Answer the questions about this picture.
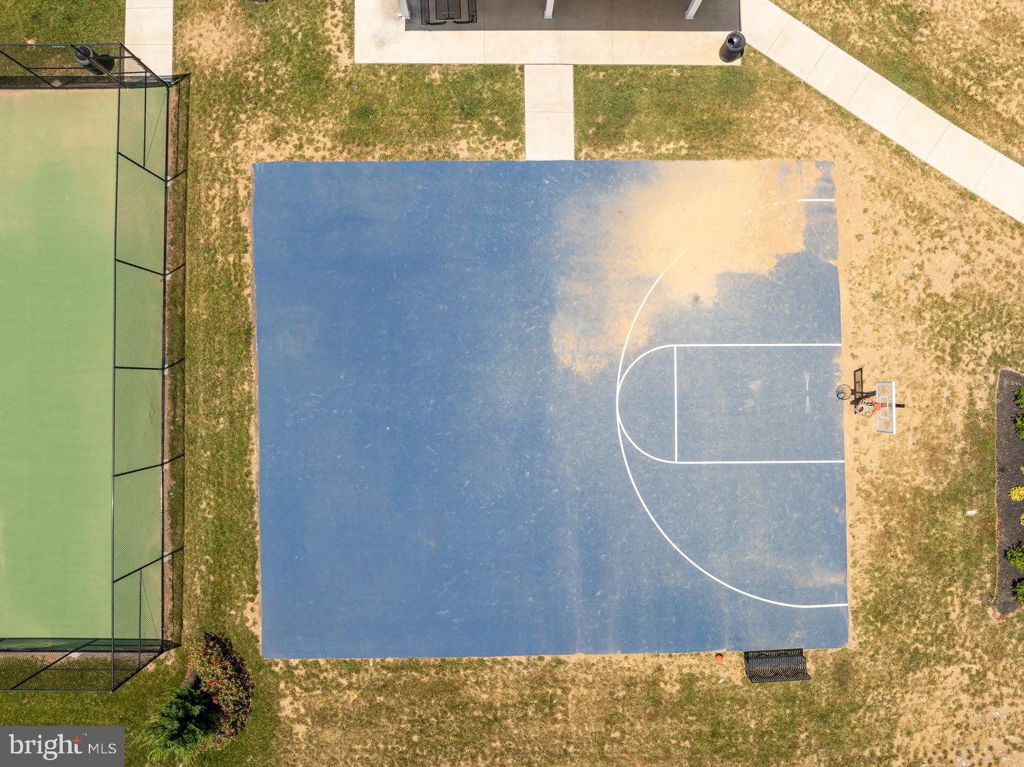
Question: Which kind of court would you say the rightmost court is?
basketball court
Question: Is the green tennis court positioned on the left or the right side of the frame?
left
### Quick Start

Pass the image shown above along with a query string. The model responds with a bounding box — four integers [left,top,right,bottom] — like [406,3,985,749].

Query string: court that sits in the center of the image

[254,161,848,658]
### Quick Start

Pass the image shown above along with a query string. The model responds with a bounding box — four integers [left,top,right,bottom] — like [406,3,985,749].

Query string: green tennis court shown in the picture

[0,88,167,648]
